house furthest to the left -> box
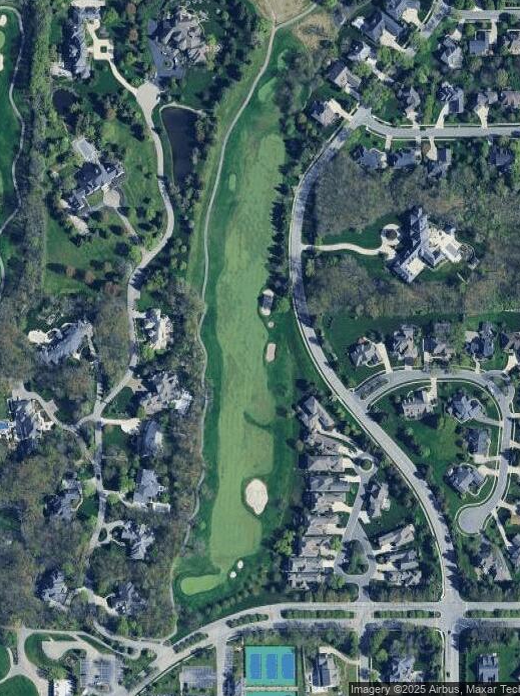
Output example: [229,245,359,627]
[10,394,46,438]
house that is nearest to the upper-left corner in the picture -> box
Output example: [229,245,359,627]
[69,6,102,79]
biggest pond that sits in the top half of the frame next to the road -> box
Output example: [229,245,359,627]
[161,106,198,177]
